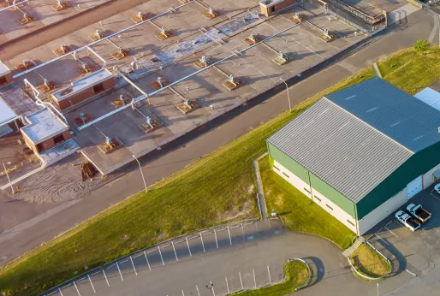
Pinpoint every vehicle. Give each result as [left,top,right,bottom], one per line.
[395,209,422,232]
[433,183,440,194]
[406,201,433,224]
